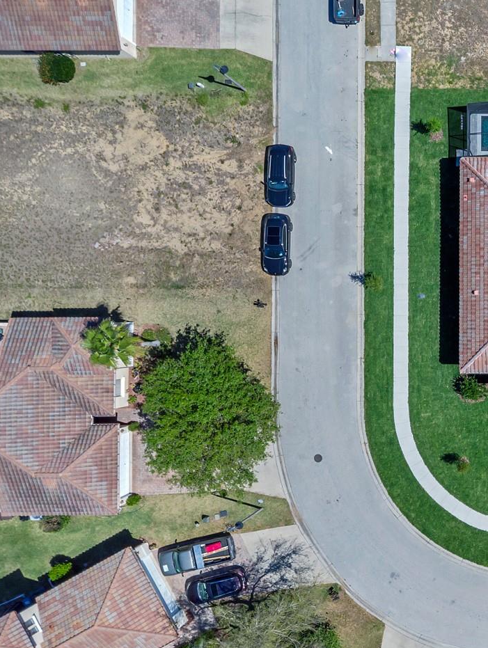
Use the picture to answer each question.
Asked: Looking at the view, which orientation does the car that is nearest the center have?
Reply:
vertically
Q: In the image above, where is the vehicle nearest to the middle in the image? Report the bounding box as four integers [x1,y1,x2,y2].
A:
[260,213,294,277]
